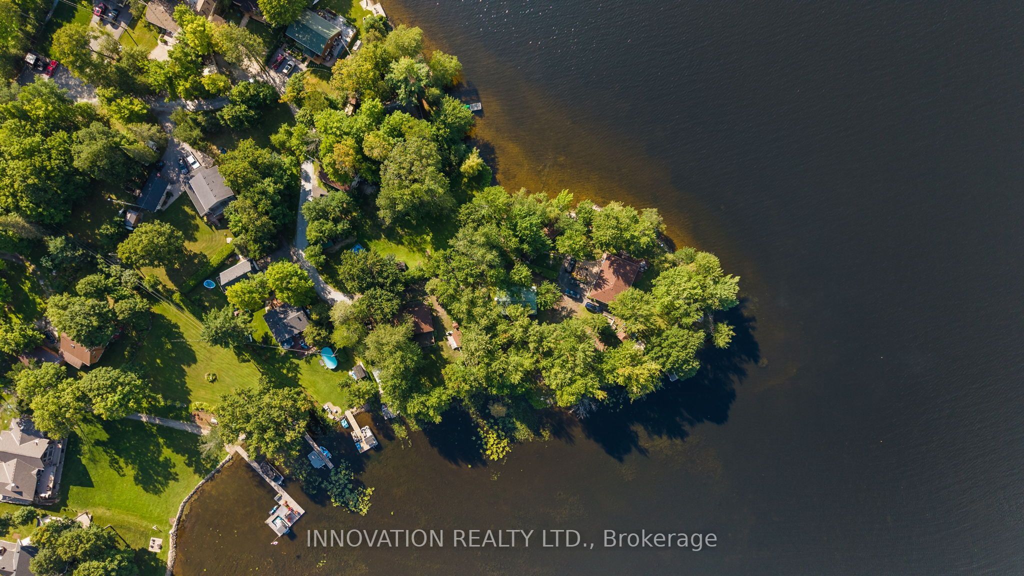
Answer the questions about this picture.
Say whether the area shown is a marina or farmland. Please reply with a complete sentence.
This image shows a marina.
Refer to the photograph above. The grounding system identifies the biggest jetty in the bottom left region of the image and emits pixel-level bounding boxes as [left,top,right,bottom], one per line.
[234,444,308,536]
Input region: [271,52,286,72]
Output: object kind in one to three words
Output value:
vehicle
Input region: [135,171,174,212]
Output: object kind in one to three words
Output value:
building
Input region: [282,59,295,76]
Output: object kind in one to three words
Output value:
vehicle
